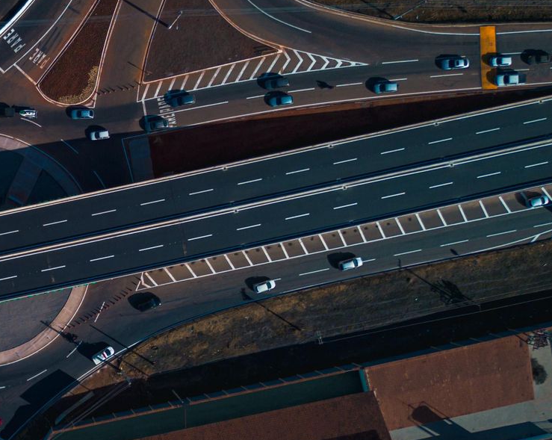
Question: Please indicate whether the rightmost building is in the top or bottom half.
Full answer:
You can find the rightmost building in the bottom half.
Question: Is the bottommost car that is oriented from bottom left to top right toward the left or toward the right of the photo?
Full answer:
The bottommost car that is oriented from bottom left to top right appears in the left half of the scene.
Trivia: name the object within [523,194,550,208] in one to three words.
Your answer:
car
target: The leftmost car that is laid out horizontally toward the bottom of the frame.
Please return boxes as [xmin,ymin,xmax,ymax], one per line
[135,295,161,310]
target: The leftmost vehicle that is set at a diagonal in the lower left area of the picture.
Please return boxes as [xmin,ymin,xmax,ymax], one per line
[90,344,117,366]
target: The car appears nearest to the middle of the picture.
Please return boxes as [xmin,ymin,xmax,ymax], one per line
[252,279,275,293]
